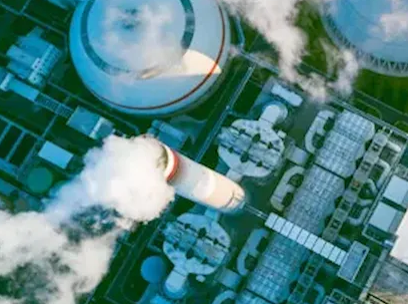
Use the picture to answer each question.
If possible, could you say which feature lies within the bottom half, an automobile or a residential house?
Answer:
residential house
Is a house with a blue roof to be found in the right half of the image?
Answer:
Yes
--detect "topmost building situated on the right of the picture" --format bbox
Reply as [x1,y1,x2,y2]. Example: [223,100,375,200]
[270,84,302,106]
